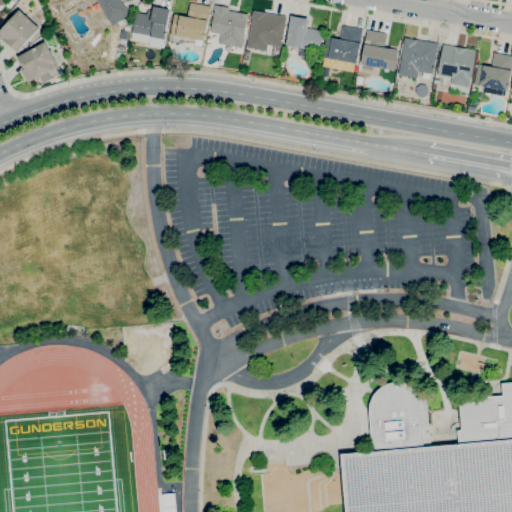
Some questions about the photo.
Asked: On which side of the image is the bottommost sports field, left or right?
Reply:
left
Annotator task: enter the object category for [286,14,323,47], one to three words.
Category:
house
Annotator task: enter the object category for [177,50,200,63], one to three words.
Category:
swimming pool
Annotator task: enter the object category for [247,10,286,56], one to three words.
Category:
house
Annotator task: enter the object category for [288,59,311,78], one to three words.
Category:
swimming pool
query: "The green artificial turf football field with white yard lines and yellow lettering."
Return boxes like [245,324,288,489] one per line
[0,404,140,512]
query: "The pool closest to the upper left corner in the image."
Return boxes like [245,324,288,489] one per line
[68,12,90,37]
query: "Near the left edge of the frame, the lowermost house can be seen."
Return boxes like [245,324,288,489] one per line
[17,40,58,83]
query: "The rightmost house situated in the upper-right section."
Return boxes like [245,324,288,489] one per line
[475,52,512,96]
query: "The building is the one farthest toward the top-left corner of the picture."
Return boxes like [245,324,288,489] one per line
[0,8,37,51]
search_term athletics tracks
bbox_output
[0,344,160,512]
